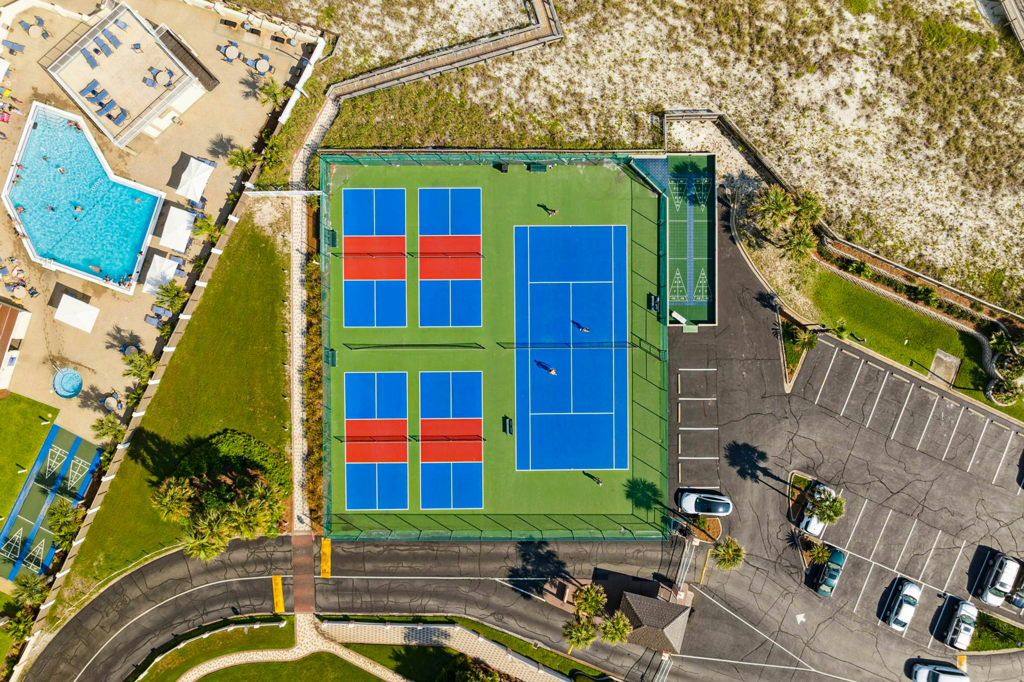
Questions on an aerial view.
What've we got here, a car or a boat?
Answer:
car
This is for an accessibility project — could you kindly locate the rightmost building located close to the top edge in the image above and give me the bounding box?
[49,3,206,156]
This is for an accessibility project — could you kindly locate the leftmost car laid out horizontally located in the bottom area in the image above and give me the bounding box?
[680,492,732,517]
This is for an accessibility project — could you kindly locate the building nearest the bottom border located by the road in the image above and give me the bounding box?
[615,590,691,655]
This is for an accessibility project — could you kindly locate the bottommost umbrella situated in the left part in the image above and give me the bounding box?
[54,294,100,333]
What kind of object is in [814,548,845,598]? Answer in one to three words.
car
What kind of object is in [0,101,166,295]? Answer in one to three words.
swimming pool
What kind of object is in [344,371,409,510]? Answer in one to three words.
sports court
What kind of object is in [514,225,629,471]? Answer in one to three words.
tennis court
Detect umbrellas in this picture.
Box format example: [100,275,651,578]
[142,255,179,295]
[176,157,214,203]
[54,294,100,333]
[0,60,13,85]
[159,206,196,253]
